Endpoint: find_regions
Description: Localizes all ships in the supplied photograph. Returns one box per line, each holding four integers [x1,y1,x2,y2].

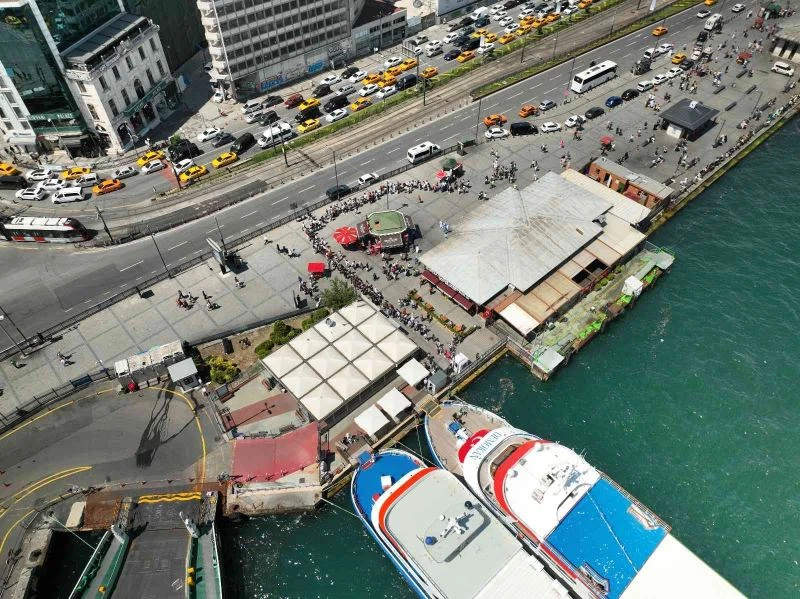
[412,393,766,599]
[350,443,564,599]
[62,497,228,599]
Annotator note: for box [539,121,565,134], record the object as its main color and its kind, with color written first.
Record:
white vehicle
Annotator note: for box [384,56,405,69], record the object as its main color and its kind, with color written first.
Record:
white vehicle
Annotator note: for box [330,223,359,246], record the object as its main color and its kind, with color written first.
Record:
red umbrella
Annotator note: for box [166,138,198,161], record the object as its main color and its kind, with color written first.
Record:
black vehicle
